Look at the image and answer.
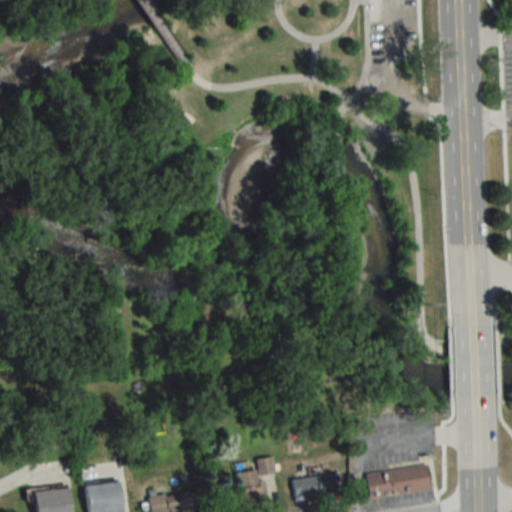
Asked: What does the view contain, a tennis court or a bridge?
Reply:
bridge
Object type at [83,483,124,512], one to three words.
house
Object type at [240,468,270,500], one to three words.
house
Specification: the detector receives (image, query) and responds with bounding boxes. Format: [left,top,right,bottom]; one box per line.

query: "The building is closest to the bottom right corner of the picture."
[367,464,433,506]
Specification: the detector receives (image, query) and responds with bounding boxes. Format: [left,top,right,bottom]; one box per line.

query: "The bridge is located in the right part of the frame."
[448,313,502,424]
